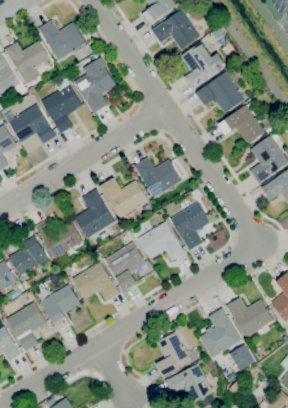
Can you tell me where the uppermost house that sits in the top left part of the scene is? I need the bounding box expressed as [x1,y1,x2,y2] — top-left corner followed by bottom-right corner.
[38,20,91,60]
